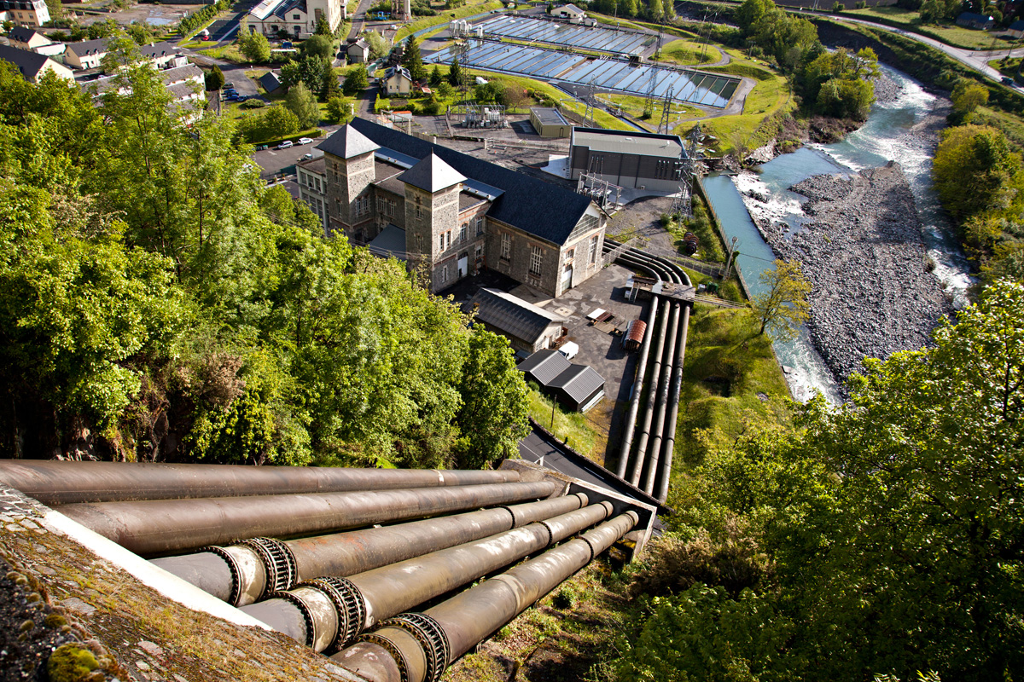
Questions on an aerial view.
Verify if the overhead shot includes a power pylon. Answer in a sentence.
Yes, the photo shows a power pylon.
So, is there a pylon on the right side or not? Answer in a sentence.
Yes, the scene does show a pylon on the right side.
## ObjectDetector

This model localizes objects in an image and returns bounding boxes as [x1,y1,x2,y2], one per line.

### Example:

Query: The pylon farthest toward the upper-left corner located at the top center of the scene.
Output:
[455,32,474,103]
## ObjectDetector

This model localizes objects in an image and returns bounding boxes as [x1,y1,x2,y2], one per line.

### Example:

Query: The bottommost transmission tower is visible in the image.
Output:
[674,125,715,229]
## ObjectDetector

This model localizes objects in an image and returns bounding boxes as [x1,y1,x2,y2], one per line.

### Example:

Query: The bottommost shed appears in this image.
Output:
[515,352,607,423]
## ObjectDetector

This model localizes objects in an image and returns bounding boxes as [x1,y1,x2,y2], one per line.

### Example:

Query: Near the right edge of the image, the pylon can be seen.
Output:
[976,36,1005,71]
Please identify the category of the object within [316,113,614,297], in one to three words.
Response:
building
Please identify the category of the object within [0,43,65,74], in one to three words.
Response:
house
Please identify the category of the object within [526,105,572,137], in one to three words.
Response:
building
